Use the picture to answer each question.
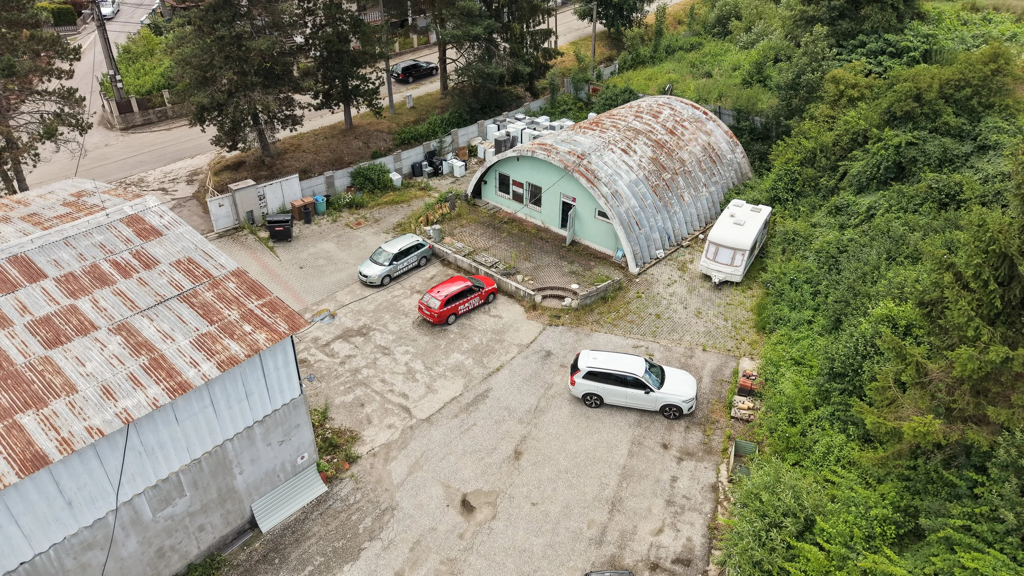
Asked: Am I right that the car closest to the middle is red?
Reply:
Yes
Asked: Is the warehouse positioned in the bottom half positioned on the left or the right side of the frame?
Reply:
left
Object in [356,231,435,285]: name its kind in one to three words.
car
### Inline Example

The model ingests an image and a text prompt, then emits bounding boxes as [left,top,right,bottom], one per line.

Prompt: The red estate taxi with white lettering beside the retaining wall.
[415,275,500,325]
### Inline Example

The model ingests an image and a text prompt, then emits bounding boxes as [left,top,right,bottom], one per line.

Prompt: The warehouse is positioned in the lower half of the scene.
[0,153,318,576]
